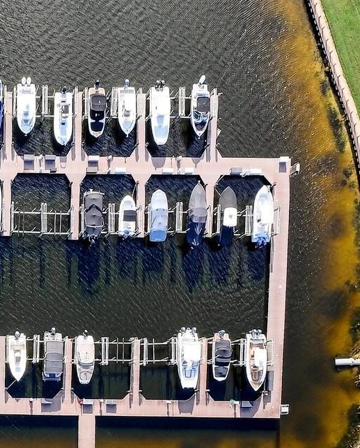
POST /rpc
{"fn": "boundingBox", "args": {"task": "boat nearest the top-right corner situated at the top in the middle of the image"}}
[190,77,211,140]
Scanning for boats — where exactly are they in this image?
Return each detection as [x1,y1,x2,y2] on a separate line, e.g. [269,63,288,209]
[119,195,136,243]
[212,326,233,380]
[186,181,206,249]
[117,81,135,138]
[148,189,167,243]
[9,329,26,383]
[177,328,200,388]
[246,327,266,392]
[75,329,95,384]
[17,76,36,135]
[42,326,64,380]
[251,183,273,251]
[150,80,170,145]
[218,185,237,246]
[53,85,73,145]
[82,191,103,246]
[88,81,107,137]
[190,77,211,140]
